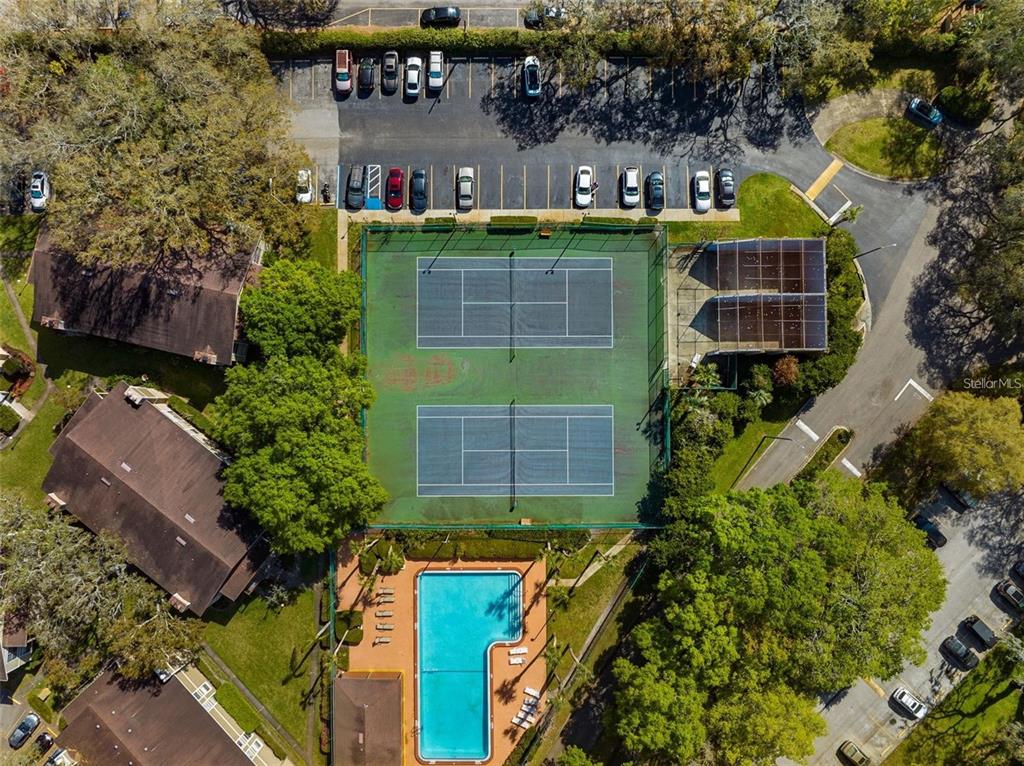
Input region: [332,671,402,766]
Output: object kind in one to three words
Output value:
house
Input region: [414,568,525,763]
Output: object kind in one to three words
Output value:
swimming pool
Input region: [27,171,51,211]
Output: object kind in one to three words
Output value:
car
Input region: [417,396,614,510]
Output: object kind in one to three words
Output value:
tennis court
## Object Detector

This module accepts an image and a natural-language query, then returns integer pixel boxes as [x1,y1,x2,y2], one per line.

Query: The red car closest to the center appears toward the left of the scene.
[386,168,405,210]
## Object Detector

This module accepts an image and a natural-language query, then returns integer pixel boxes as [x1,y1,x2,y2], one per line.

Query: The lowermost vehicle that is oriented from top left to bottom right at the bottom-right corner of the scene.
[836,736,873,766]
